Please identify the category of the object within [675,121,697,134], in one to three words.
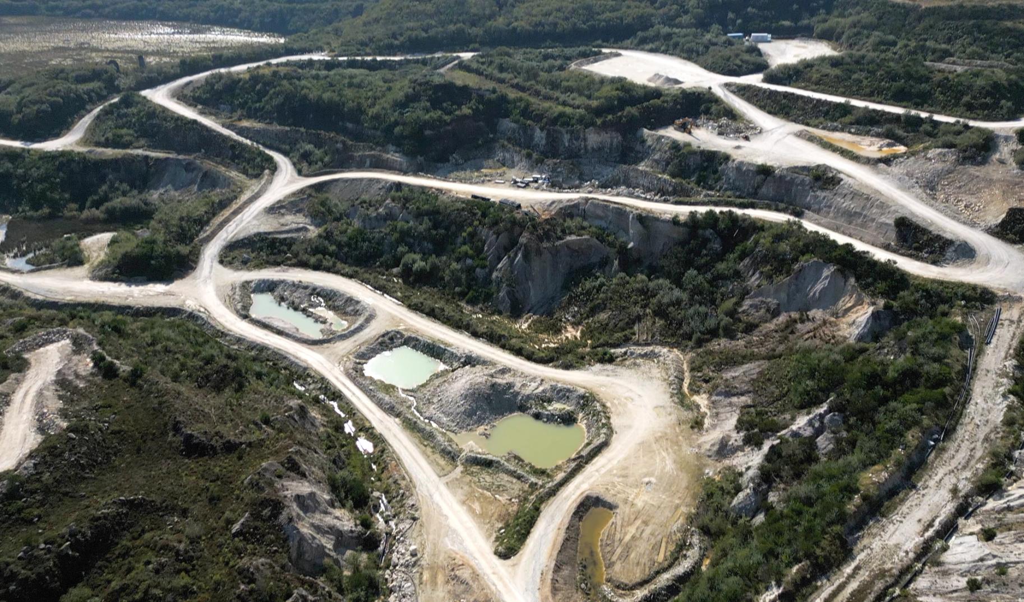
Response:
vehicle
